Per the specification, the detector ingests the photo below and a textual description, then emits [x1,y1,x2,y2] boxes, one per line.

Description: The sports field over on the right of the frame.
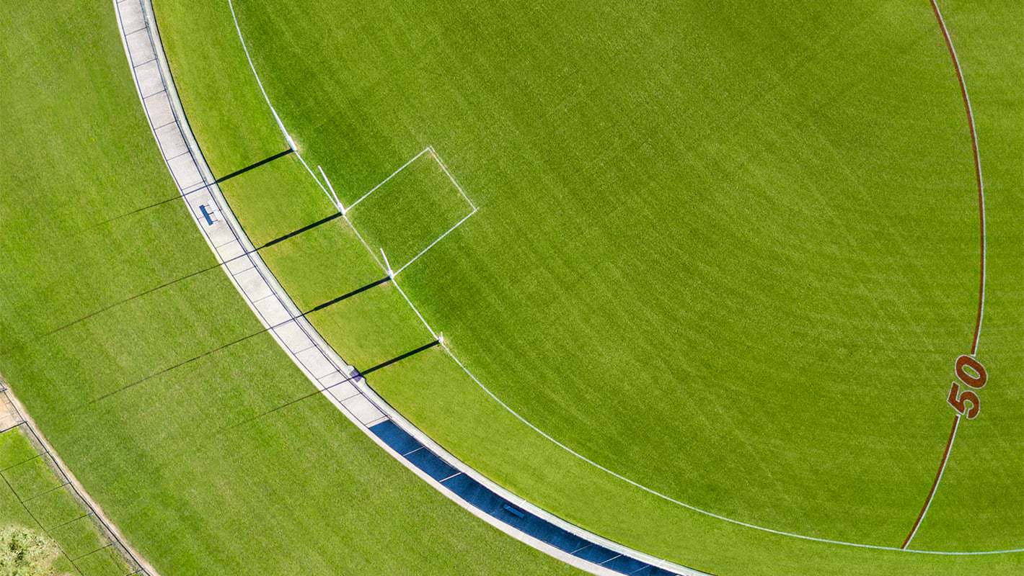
[229,0,1024,554]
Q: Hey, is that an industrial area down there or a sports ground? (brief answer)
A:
sports ground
